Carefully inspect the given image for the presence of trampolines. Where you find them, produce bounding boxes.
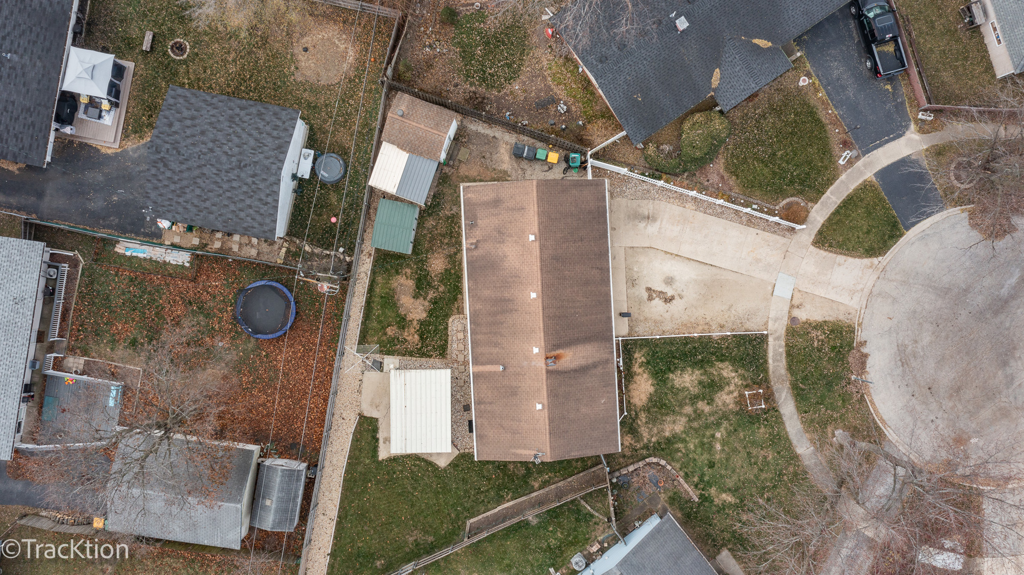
[236,279,298,339]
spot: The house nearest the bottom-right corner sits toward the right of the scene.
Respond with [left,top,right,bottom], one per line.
[578,505,720,575]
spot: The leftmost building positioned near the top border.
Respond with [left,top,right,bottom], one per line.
[0,0,82,167]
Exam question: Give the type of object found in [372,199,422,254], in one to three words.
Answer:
shed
